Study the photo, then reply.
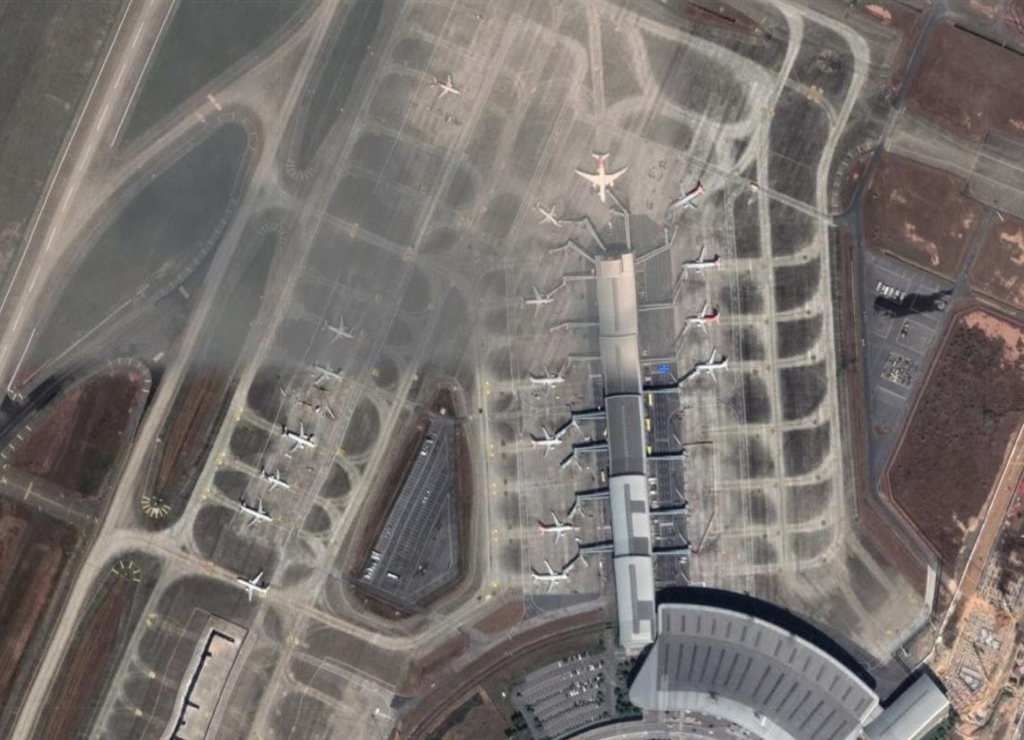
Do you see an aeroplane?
Yes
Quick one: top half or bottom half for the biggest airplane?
top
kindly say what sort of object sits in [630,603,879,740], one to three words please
building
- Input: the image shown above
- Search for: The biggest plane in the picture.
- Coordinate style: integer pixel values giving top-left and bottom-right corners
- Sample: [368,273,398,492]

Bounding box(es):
[574,149,627,202]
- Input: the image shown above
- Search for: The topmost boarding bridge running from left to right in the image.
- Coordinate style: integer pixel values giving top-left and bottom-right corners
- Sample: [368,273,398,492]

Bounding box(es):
[550,241,598,263]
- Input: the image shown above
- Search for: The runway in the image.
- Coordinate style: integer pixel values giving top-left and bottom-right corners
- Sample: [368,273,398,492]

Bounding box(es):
[0,0,174,424]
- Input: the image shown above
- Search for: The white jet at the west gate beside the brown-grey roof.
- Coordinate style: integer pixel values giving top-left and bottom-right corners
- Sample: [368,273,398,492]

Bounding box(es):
[531,364,565,395]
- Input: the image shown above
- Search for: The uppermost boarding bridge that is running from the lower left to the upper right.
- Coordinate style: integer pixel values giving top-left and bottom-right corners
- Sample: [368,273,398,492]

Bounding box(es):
[635,226,678,267]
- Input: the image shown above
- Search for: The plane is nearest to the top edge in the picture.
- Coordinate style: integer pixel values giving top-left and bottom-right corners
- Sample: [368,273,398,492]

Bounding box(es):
[431,76,461,99]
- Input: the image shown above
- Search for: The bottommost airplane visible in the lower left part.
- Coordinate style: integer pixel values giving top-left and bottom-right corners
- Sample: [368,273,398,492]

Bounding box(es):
[235,569,267,599]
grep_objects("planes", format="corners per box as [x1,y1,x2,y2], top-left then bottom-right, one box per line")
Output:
[235,569,267,599]
[574,149,627,202]
[683,246,720,279]
[431,76,461,99]
[538,513,574,544]
[696,348,728,381]
[522,287,554,315]
[532,559,568,592]
[281,423,315,453]
[686,301,719,334]
[531,427,562,457]
[531,364,565,395]
[260,471,290,492]
[310,357,343,386]
[239,498,272,527]
[535,202,560,226]
[321,315,354,344]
